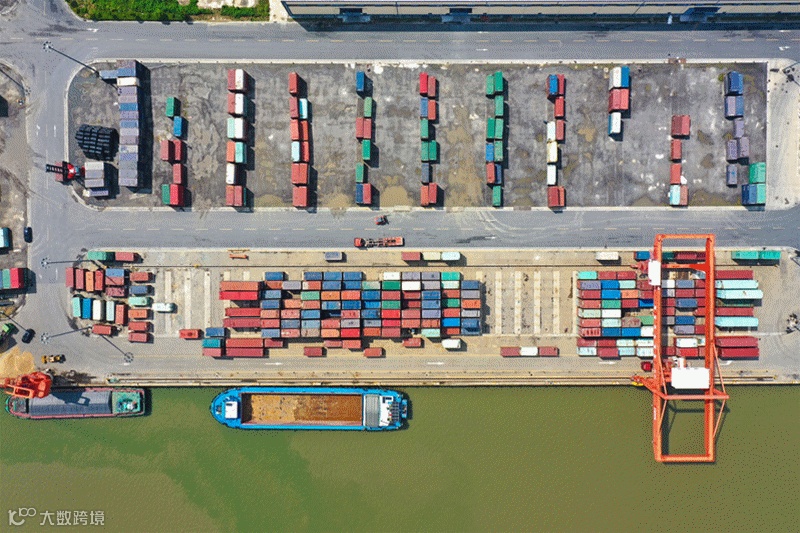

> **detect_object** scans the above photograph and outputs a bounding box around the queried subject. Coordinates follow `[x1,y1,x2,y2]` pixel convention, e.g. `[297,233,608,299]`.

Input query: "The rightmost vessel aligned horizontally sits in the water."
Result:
[212,386,401,431]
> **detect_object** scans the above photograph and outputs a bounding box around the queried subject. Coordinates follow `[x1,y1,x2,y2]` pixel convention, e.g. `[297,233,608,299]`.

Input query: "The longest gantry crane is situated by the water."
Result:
[622,237,730,460]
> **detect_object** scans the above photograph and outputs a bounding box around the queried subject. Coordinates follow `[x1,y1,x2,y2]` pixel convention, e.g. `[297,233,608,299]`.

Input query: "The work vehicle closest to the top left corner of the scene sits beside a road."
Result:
[46,160,84,180]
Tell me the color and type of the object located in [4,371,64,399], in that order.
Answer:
red crane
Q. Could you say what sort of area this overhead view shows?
port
